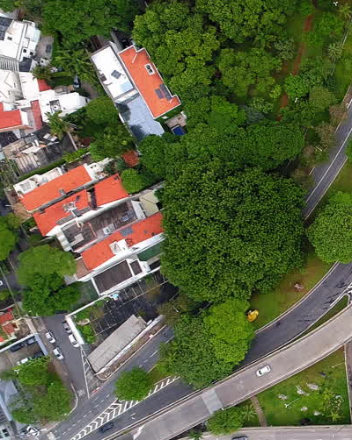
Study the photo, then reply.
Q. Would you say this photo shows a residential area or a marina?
residential area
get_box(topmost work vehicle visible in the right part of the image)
[246,308,261,321]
